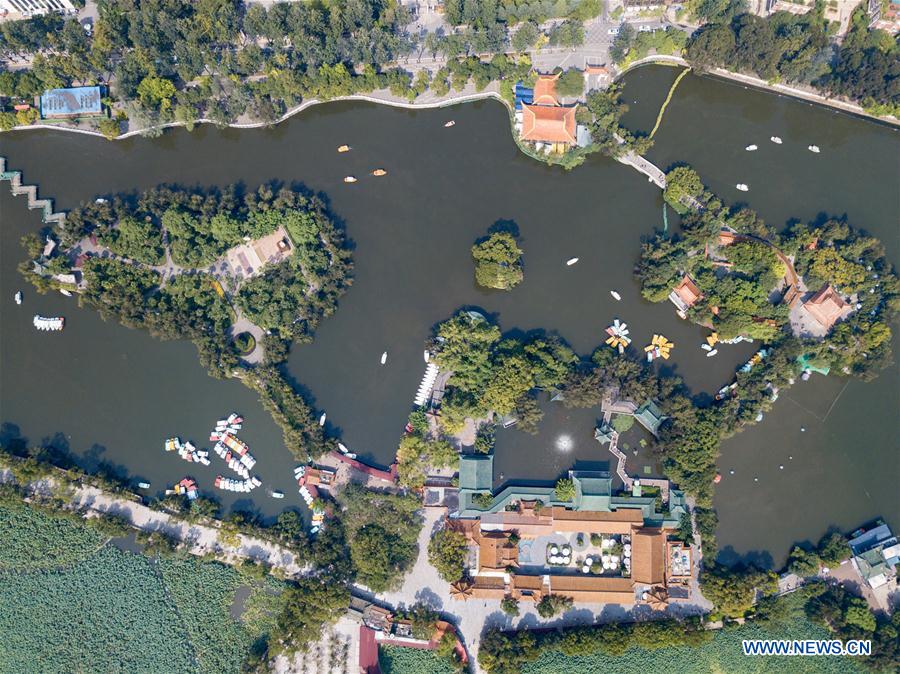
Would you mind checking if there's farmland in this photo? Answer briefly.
No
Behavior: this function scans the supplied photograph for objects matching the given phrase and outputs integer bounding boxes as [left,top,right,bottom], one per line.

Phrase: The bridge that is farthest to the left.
[0,155,67,230]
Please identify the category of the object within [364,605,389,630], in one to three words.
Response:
house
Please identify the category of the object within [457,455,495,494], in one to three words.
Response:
building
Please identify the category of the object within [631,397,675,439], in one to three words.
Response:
building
